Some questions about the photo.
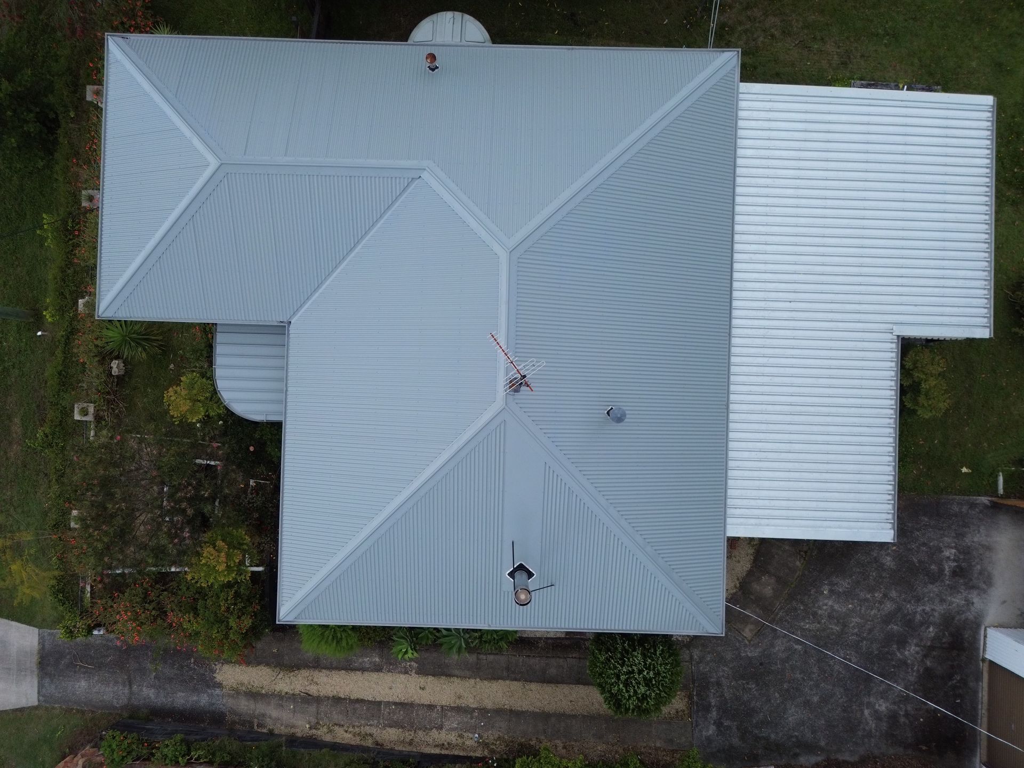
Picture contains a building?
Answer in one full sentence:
Yes, there's a building down there.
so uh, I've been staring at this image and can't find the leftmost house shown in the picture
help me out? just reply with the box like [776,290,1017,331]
[96,35,740,635]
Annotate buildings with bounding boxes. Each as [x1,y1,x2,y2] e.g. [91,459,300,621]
[96,35,740,635]
[985,628,1024,768]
